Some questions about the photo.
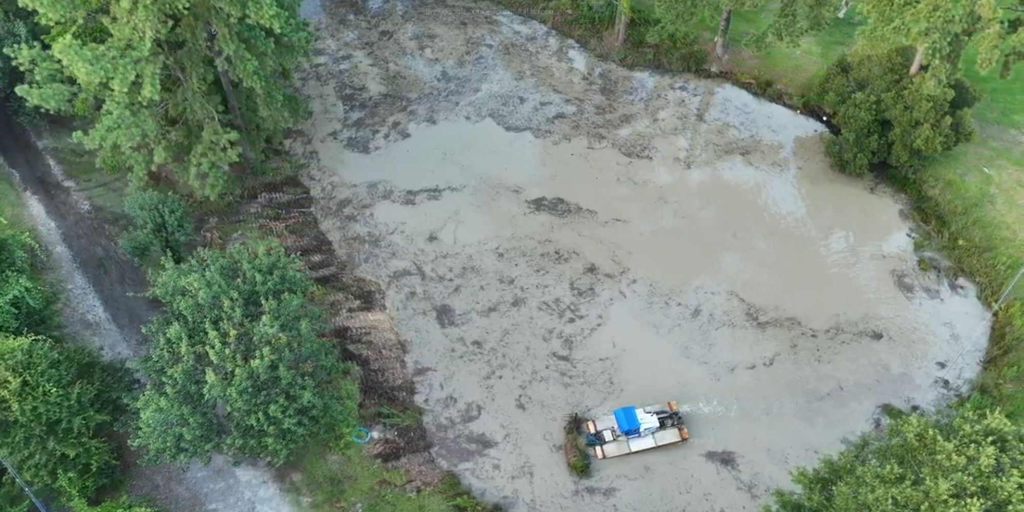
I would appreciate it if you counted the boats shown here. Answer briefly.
1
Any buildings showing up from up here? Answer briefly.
No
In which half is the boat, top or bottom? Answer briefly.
bottom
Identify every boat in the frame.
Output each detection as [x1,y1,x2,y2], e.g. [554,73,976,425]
[560,403,688,470]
